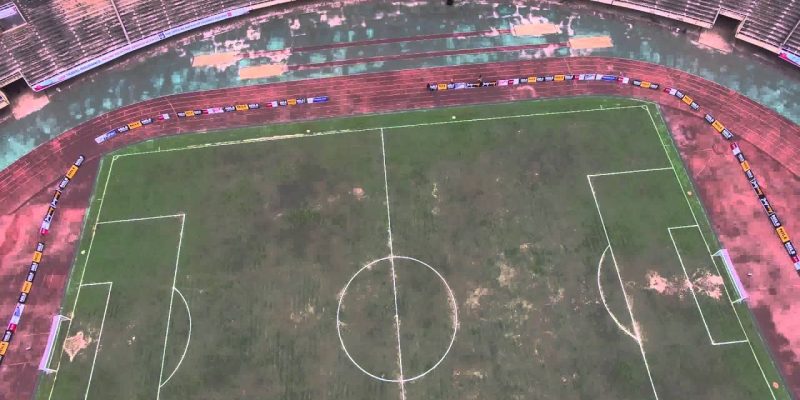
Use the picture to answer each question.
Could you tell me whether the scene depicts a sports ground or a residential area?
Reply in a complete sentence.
This looks like a sports ground.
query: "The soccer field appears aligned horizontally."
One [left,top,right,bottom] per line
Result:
[28,95,798,400]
